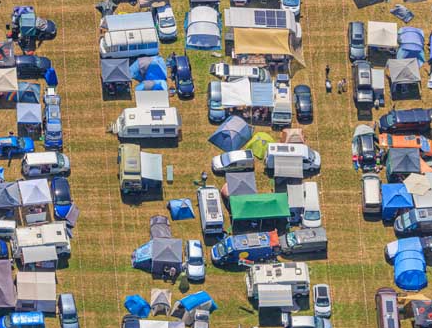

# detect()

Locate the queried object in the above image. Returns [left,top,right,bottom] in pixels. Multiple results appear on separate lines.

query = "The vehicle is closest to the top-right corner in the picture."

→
[348,25,368,61]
